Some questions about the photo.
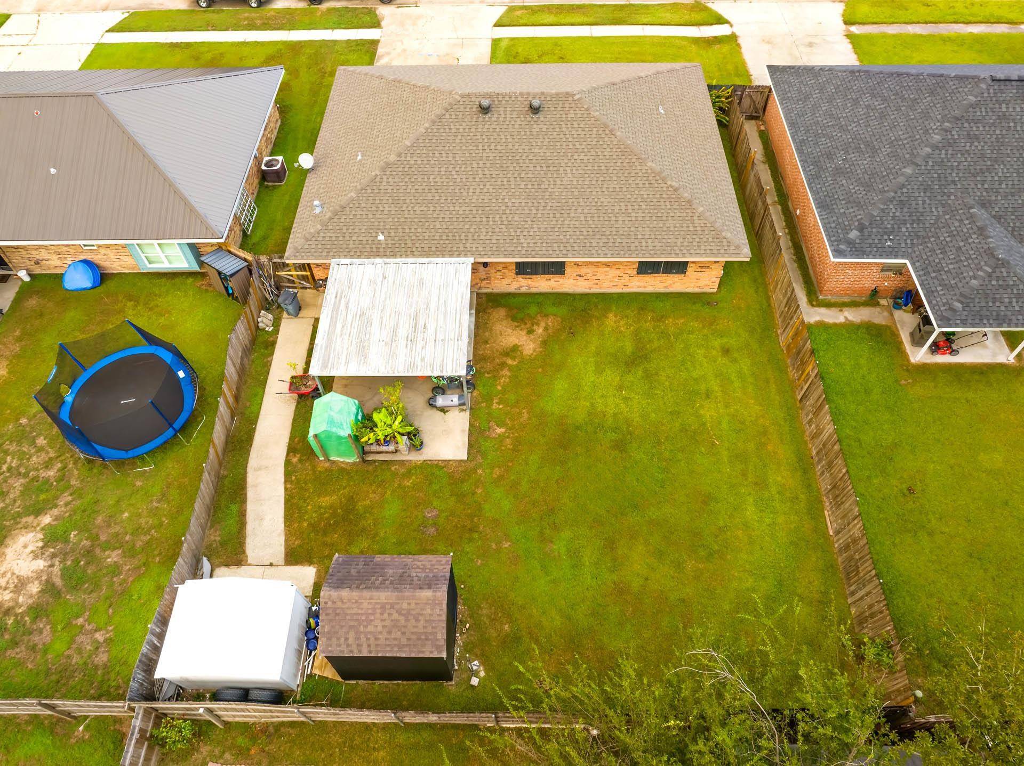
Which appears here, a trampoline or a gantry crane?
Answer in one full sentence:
Of the two, only a trampoline appears.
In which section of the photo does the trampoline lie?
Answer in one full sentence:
The trampoline appears toward the left of the photo.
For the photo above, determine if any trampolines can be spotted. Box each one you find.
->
[32,319,205,473]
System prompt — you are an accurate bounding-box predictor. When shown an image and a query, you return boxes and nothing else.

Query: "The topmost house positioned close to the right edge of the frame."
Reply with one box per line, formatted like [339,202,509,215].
[765,65,1024,362]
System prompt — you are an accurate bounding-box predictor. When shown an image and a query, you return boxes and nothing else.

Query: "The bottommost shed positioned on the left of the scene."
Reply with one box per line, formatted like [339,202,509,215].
[317,553,460,684]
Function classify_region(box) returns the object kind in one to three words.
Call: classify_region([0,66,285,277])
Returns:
house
